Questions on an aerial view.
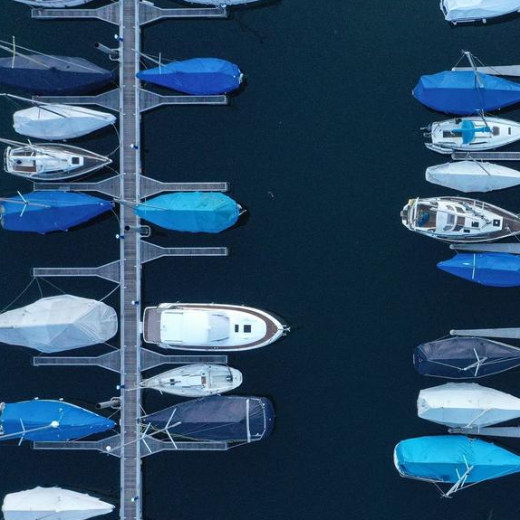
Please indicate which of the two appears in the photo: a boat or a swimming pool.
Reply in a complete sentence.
The image shows a boat.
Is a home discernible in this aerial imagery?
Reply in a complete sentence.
No, there is no home in the image.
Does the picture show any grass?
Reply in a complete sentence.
No, the picture contains no grass.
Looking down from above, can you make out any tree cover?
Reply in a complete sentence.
No, the scene doesn't show any tree cover.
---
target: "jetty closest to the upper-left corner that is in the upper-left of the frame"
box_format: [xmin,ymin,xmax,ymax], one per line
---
[32,1,120,25]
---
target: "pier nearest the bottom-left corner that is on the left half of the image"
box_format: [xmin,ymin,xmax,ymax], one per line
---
[32,435,120,458]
